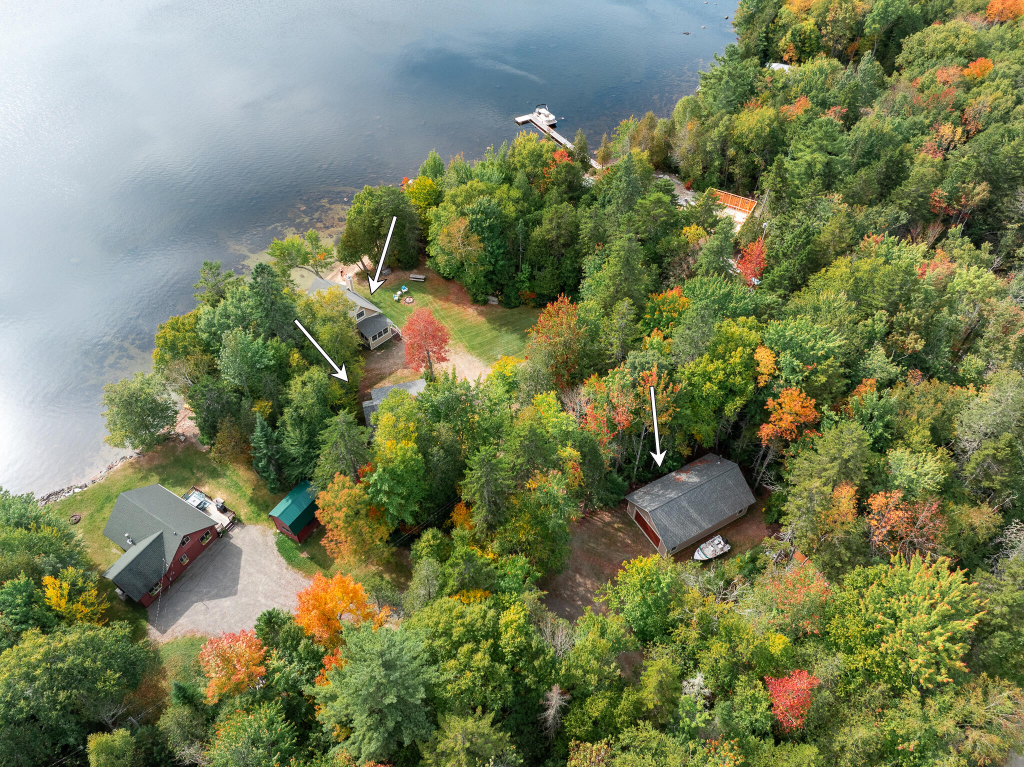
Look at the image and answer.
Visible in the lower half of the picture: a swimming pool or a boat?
boat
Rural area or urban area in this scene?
rural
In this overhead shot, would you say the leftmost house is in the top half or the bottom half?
bottom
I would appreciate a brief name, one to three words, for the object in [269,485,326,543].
shed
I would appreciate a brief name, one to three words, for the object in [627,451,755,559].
barn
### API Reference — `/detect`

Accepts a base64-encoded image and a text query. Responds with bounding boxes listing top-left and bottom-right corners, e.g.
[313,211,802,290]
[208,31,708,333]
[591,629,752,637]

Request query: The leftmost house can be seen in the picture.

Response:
[100,482,236,606]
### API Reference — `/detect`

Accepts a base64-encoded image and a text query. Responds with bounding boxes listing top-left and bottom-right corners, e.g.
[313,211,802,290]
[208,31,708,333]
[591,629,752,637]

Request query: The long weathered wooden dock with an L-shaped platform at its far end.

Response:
[515,114,577,153]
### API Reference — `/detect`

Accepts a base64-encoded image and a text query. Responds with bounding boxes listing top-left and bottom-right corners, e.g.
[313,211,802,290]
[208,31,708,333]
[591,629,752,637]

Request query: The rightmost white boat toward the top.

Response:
[535,103,561,128]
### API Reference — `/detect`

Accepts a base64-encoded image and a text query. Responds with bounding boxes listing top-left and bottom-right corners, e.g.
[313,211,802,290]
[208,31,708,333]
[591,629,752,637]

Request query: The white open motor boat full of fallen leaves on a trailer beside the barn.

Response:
[694,535,730,559]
